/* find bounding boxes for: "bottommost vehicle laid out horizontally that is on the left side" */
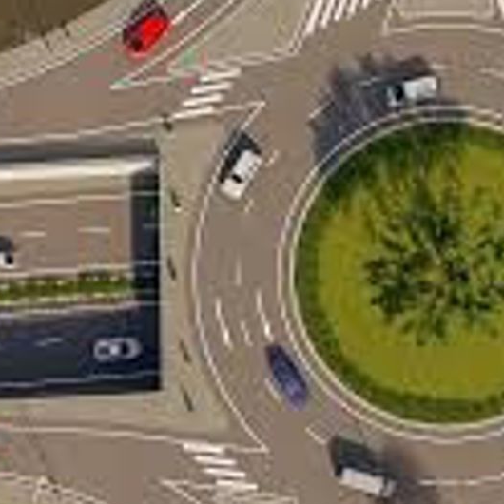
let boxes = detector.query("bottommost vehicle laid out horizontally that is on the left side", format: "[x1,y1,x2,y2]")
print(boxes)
[95,340,140,359]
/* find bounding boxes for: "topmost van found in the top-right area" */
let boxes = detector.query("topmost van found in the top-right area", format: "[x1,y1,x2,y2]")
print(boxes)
[386,75,440,105]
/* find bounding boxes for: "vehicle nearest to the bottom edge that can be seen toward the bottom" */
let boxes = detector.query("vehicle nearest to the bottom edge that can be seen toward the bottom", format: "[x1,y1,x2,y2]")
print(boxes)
[335,455,393,493]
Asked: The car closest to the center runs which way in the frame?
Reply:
on a diagonal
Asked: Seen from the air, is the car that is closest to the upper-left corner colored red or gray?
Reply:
red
